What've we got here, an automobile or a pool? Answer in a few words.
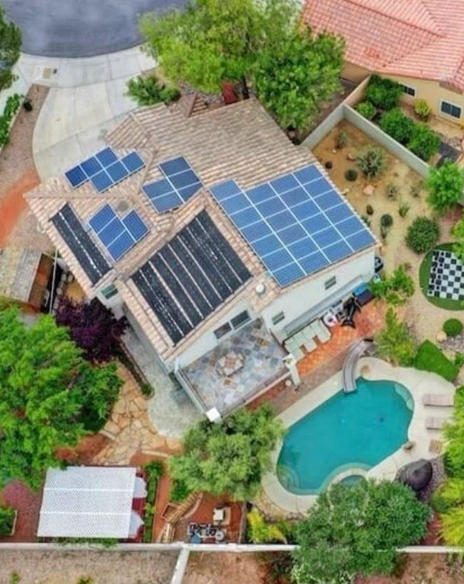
pool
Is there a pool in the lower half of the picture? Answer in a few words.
Yes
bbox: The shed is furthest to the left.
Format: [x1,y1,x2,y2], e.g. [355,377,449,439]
[0,252,53,311]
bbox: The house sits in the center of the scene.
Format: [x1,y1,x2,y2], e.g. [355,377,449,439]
[31,87,383,431]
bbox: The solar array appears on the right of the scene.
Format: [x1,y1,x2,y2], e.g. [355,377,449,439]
[211,169,373,290]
